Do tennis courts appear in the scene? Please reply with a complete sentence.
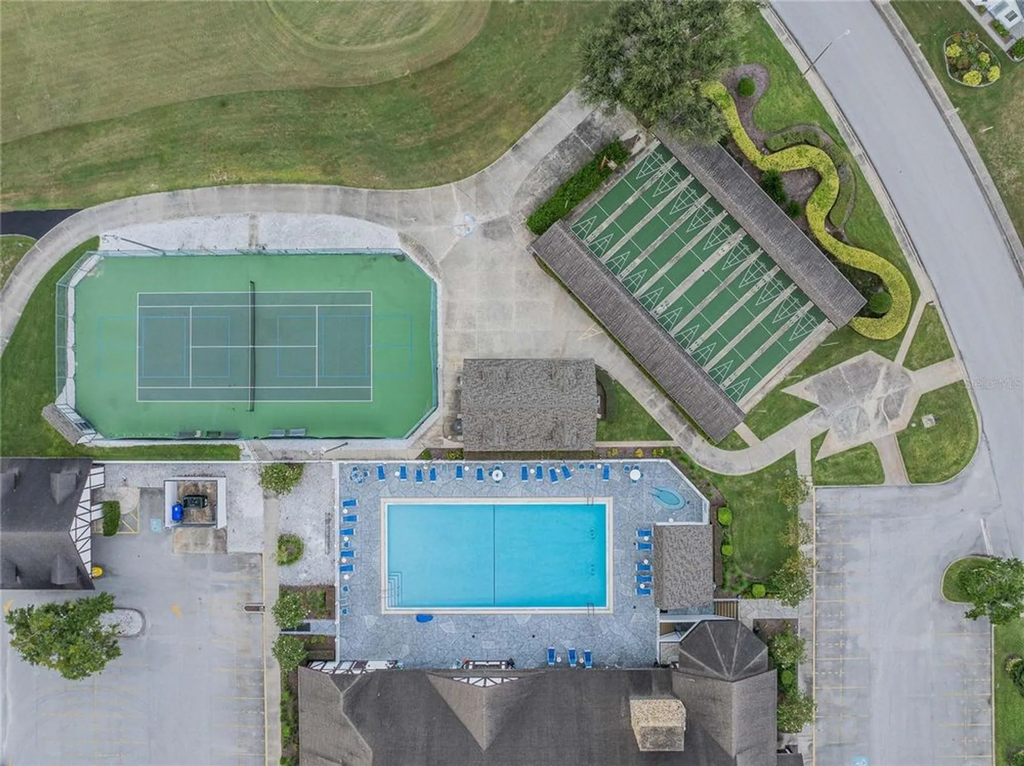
Yes, there is a tennis court in the image.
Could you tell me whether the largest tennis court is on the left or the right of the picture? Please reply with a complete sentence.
It is on the left.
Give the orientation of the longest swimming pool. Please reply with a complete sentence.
Seen from above, the longest swimming pool lies from left to right.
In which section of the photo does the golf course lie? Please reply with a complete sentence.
The golf course sits in the top left section of the image.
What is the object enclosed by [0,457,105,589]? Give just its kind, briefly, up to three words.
building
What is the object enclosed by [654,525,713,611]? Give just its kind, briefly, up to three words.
building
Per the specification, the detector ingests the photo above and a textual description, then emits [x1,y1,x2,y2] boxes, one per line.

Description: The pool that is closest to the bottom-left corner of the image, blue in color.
[379,497,613,615]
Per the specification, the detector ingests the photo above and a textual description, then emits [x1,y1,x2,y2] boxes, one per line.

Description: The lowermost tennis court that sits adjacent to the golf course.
[74,255,433,439]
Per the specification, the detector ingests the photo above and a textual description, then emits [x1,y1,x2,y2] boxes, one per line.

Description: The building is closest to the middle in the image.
[461,359,597,451]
